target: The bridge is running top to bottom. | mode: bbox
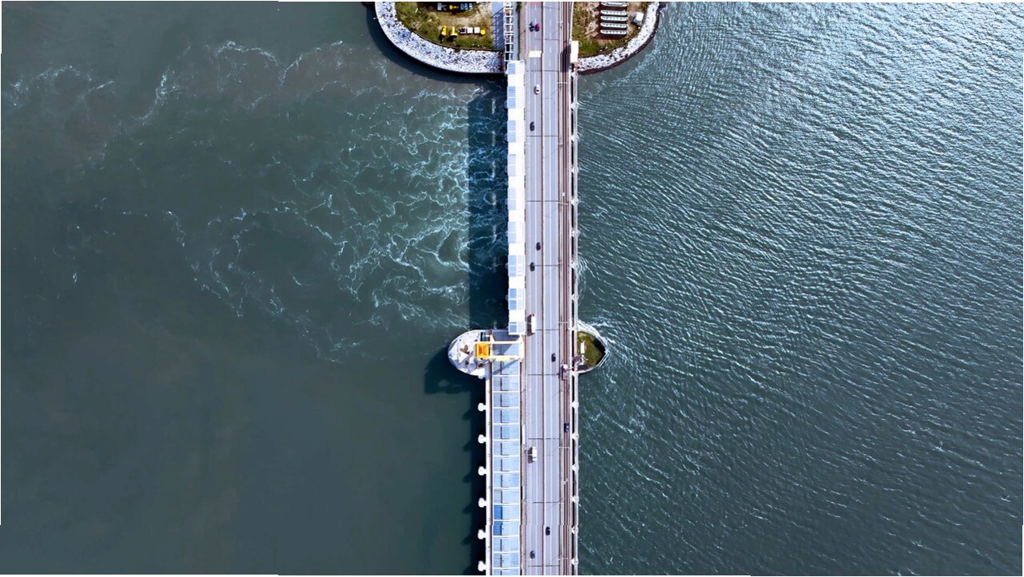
[478,0,577,577]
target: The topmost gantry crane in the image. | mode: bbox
[474,329,524,360]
